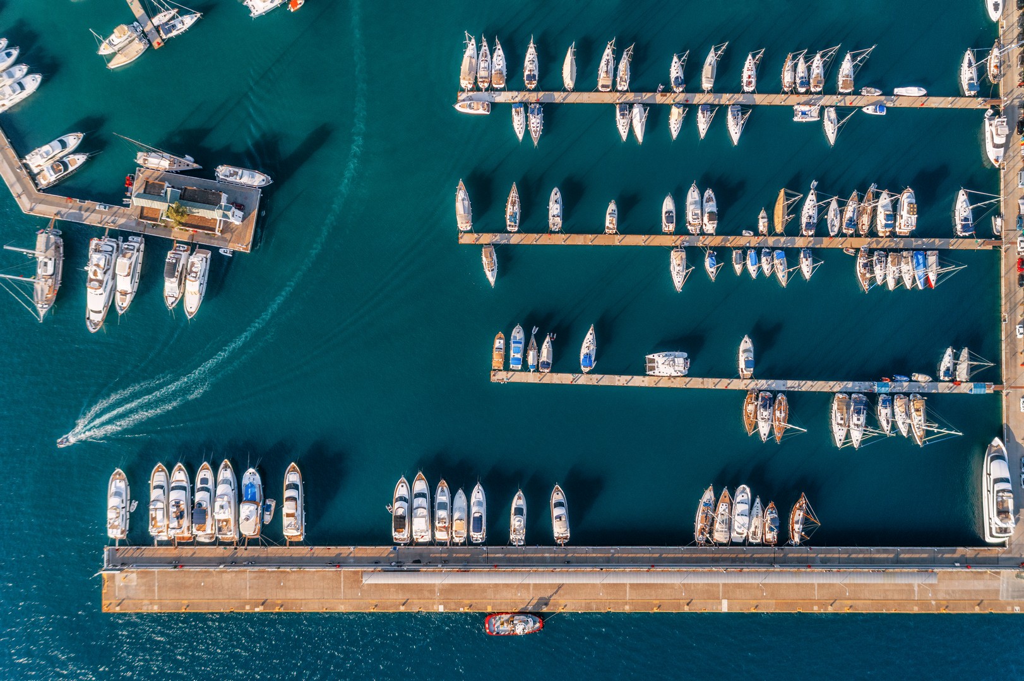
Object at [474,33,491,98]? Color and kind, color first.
white boat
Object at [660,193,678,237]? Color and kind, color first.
white boat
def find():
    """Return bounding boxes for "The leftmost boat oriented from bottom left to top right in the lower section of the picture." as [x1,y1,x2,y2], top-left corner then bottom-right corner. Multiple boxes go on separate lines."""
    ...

[57,433,73,445]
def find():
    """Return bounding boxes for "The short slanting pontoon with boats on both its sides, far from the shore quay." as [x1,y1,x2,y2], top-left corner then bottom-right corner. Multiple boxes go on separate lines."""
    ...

[129,0,166,51]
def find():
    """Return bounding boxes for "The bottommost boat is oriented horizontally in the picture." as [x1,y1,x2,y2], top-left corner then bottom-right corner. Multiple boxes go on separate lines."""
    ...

[469,609,561,643]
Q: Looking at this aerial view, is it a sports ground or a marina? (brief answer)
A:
marina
